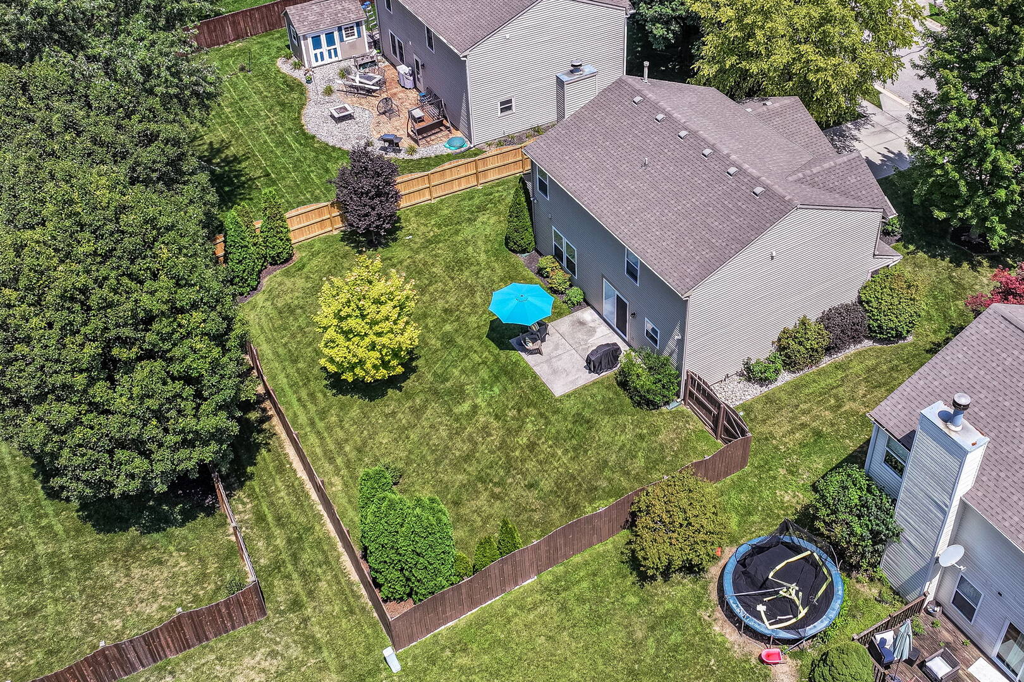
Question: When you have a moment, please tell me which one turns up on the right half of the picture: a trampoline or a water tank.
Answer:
trampoline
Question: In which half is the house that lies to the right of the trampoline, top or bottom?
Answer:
bottom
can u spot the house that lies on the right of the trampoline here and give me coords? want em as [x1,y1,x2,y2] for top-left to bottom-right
[858,303,1024,682]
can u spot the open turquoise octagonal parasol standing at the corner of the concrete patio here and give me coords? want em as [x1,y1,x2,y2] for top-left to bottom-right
[486,281,557,345]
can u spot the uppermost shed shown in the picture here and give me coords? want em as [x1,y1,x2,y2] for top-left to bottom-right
[279,0,368,69]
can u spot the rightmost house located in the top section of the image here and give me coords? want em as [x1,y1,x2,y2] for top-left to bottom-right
[520,61,905,401]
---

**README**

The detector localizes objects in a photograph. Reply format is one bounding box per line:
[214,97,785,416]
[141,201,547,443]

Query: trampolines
[719,519,843,666]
